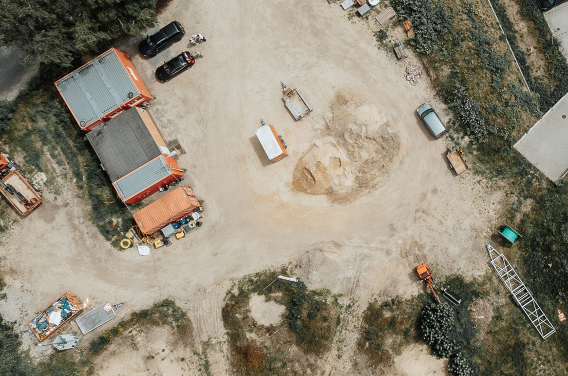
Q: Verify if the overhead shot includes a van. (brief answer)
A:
Yes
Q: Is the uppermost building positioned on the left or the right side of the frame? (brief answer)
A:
left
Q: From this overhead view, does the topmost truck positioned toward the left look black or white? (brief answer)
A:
black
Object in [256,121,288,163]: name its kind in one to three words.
trailer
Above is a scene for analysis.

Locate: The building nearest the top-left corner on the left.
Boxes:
[55,48,154,131]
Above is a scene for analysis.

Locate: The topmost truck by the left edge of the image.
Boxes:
[0,150,42,219]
